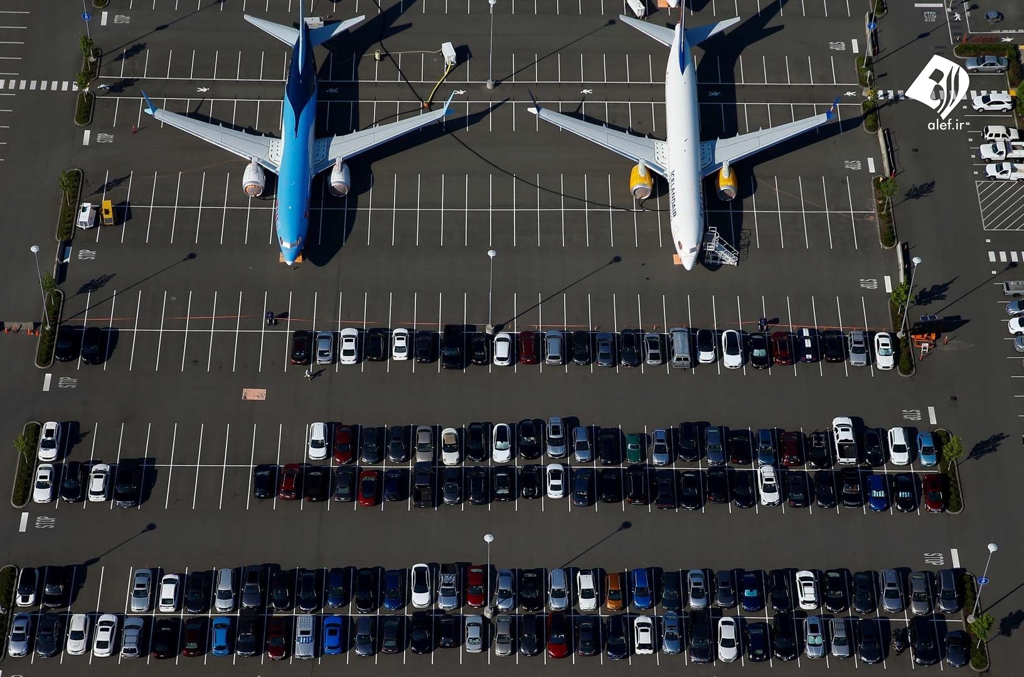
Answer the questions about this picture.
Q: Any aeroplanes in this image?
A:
Yes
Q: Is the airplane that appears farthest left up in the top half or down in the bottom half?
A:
top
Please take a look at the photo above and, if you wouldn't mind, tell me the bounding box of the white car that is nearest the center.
[492,333,511,364]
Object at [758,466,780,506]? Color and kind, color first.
white car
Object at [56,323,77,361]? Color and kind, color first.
black car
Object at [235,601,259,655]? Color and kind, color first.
black truck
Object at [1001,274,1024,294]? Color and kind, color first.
gray vehicle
